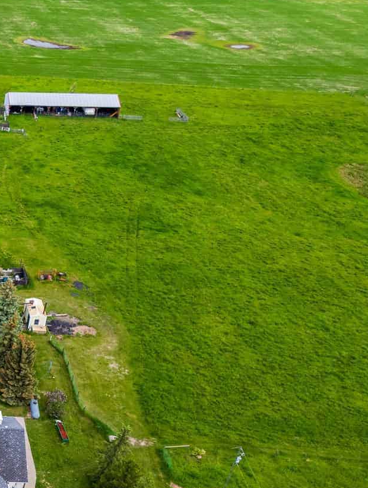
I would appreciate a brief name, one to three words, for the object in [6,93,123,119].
barn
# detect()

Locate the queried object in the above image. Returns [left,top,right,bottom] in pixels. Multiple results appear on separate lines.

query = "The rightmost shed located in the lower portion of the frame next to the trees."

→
[25,298,50,336]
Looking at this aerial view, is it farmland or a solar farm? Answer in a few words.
farmland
